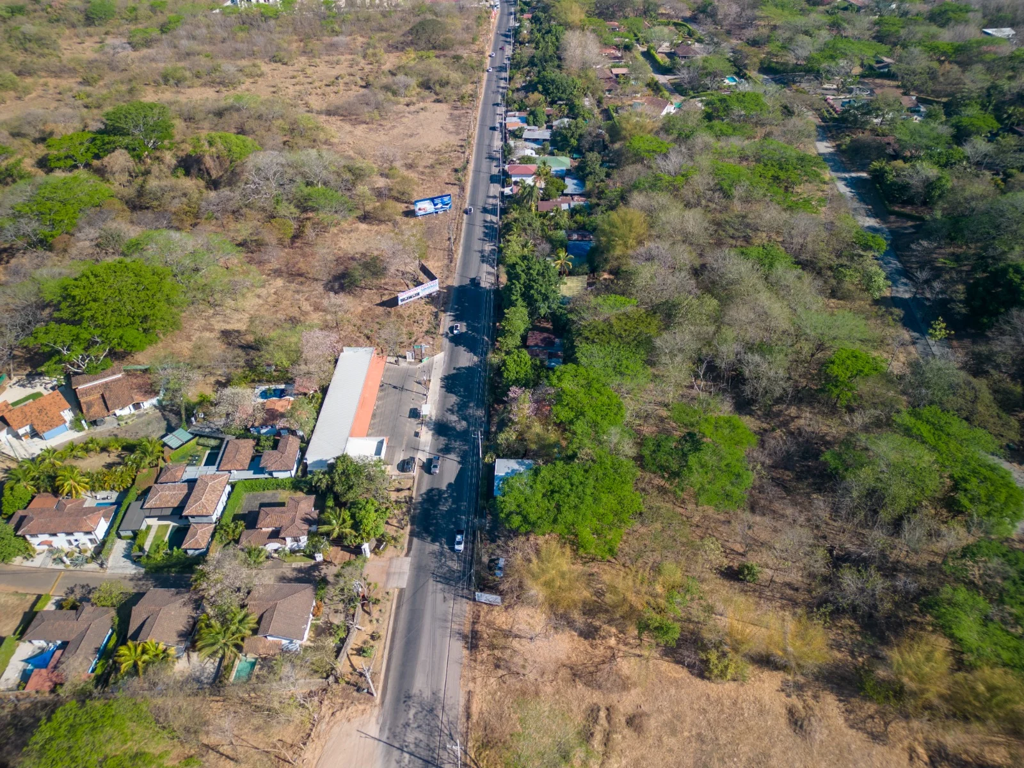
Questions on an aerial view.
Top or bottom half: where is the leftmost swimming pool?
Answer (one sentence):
The leftmost swimming pool sits in the bottom half of the picture.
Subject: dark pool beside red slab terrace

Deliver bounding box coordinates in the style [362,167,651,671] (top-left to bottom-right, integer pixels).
[18,666,38,688]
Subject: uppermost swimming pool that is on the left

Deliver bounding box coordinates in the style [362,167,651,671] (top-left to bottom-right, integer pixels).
[254,386,289,402]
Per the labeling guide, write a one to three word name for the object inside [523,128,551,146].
house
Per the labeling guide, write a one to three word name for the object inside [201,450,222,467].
swimming pool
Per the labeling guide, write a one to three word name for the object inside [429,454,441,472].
vehicle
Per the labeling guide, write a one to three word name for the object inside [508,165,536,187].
house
